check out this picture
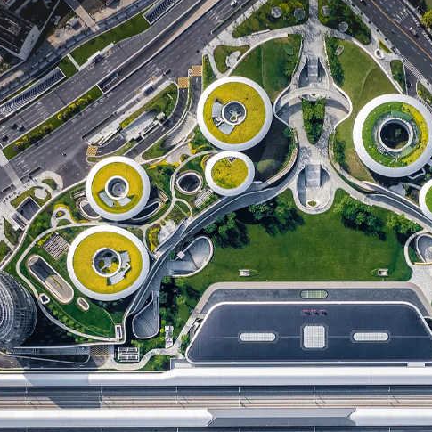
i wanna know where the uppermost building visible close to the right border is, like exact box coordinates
[353,94,432,178]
